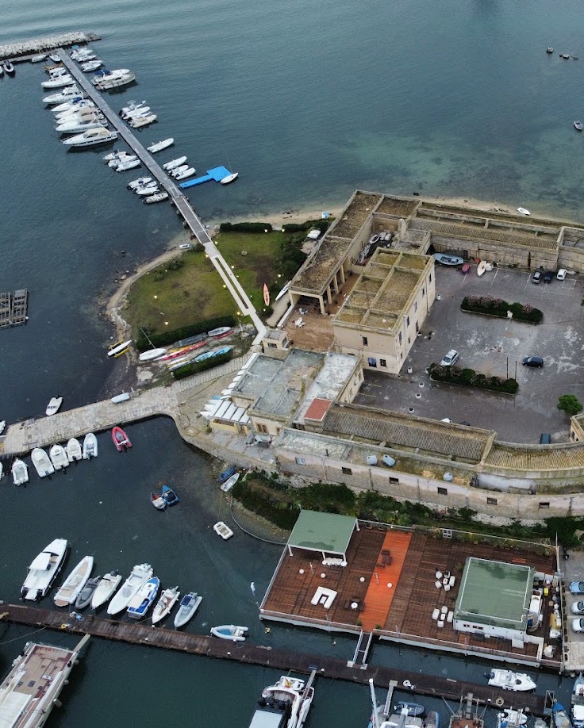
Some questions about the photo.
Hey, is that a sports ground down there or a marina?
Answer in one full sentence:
The area seen from above is a marina.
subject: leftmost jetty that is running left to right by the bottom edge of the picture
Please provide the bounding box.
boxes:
[0,603,557,716]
